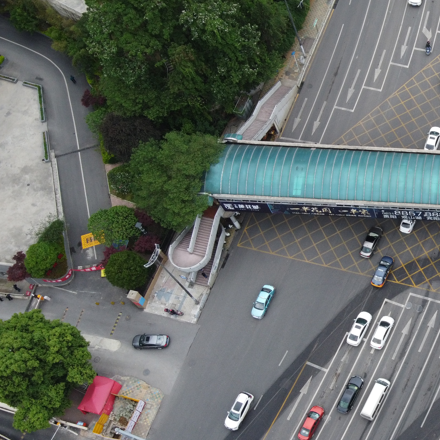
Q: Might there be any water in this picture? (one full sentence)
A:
No, water can't be seen anywhere here.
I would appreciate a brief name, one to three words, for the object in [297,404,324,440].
car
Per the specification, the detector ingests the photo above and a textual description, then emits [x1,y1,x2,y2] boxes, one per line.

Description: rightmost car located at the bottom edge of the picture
[359,376,390,422]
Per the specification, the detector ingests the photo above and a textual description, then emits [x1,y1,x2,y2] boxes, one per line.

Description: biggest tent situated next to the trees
[77,375,129,419]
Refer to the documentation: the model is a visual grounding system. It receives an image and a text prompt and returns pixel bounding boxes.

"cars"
[359,226,382,259]
[131,333,170,350]
[401,221,417,235]
[252,284,275,319]
[337,375,364,413]
[359,376,390,422]
[425,126,440,149]
[370,315,394,351]
[372,256,393,287]
[297,404,324,440]
[347,312,372,347]
[225,390,252,430]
